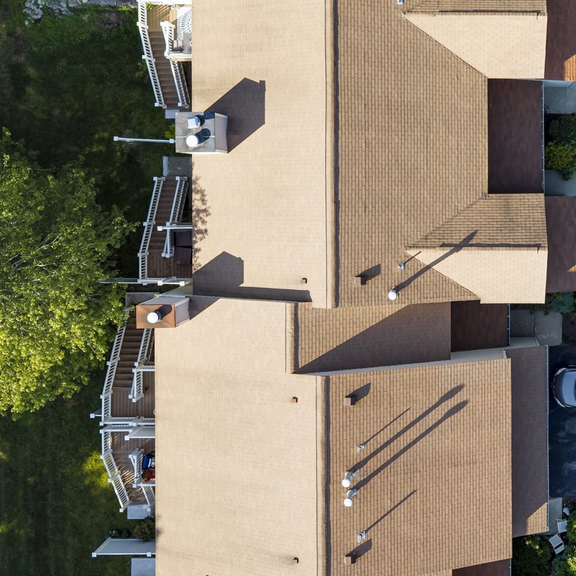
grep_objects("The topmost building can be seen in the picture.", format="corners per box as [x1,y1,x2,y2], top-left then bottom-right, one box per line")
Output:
[174,0,576,307]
